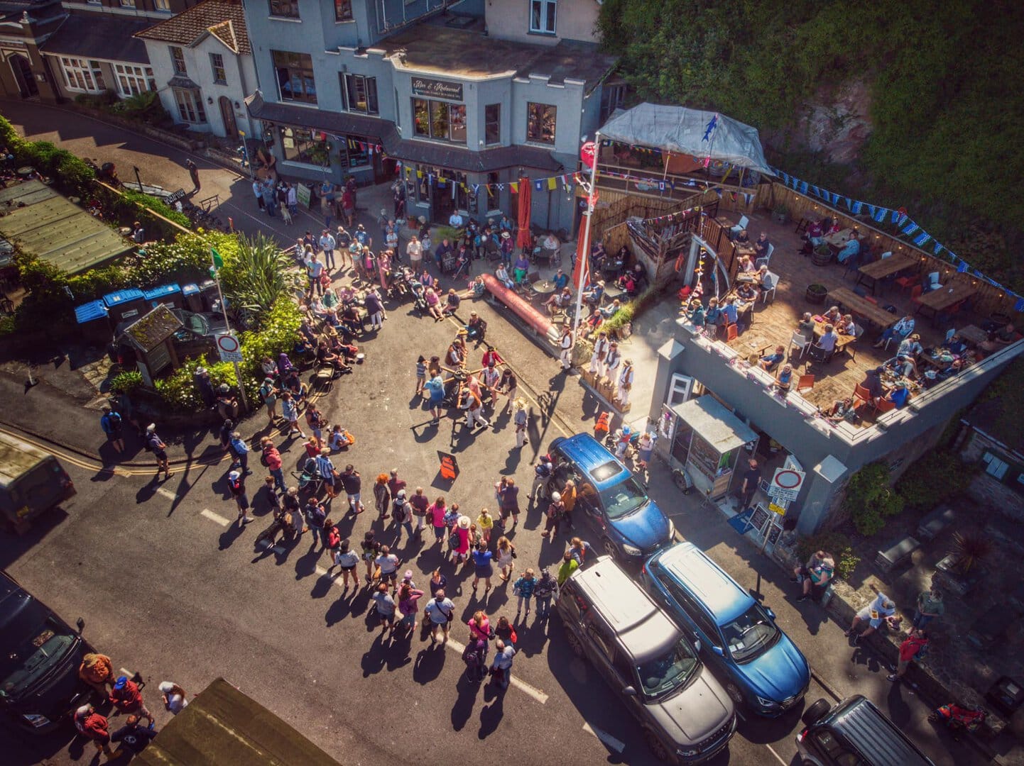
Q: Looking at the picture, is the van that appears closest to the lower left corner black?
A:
Yes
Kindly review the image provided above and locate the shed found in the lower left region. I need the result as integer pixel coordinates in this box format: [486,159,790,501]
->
[137,679,339,766]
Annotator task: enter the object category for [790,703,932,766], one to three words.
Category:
car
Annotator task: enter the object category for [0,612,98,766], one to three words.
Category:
van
